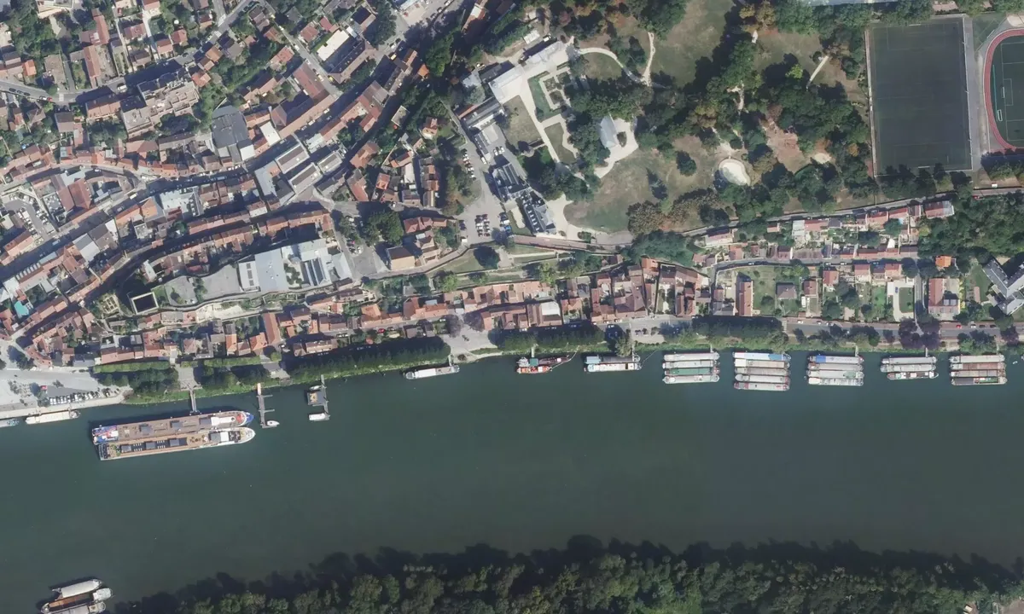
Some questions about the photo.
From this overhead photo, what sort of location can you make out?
residential area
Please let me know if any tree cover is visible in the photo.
Yes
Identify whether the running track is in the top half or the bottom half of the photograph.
top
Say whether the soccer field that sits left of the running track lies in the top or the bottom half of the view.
top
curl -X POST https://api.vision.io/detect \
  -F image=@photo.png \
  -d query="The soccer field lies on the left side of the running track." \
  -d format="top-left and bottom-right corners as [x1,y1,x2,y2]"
[865,17,973,177]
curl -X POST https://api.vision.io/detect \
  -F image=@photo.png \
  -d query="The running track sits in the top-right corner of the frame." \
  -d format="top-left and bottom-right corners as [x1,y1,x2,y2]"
[984,30,1024,151]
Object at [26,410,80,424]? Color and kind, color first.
white ship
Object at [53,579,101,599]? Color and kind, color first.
white ship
